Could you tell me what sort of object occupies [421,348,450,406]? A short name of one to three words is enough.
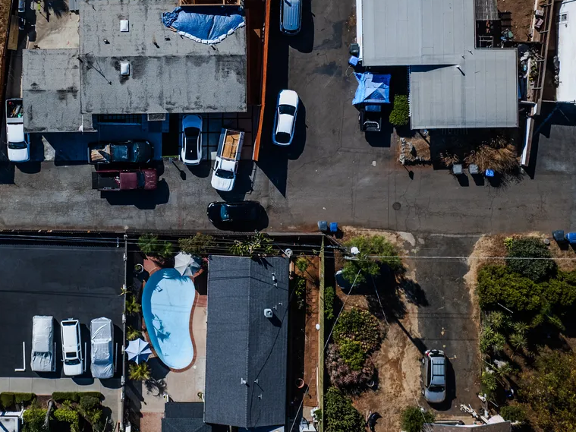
car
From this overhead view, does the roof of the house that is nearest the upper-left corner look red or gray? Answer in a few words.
gray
